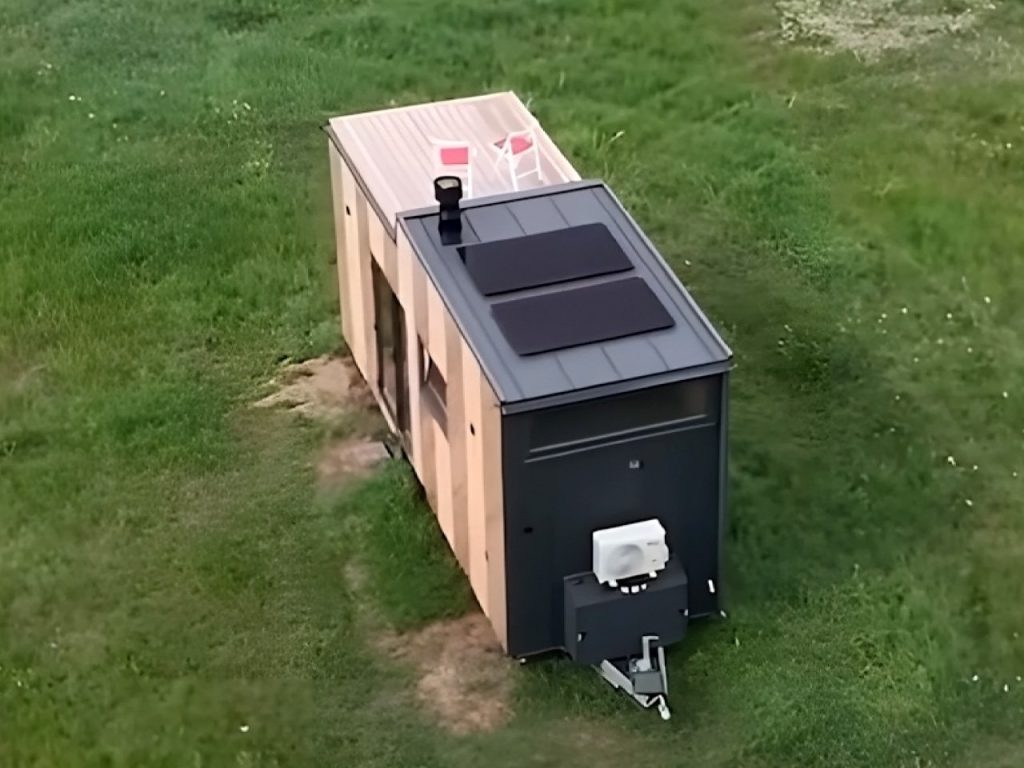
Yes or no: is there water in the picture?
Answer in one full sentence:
No, there is no water in the image.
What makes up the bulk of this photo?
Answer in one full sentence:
The bulk of the photo consists of grass.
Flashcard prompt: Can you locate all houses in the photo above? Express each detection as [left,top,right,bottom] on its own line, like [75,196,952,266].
[324,93,741,721]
